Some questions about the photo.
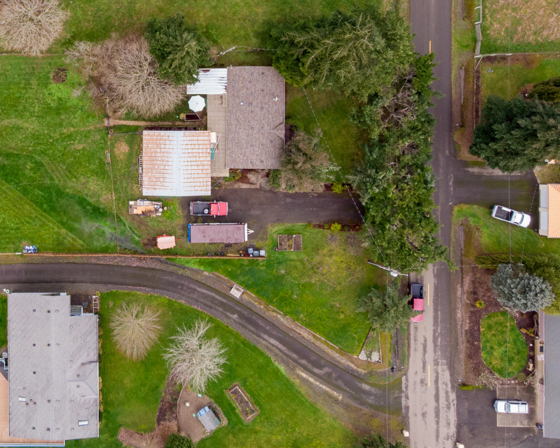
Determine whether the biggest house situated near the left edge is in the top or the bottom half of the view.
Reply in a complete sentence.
You can find the biggest house situated near the left edge in the bottom half.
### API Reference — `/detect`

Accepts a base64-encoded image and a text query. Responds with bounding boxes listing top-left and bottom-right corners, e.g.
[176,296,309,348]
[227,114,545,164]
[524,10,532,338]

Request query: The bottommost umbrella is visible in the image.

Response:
[190,95,207,112]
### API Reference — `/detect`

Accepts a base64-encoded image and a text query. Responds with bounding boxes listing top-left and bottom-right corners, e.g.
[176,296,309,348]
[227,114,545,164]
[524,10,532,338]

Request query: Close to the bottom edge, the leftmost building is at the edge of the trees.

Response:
[7,292,99,441]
